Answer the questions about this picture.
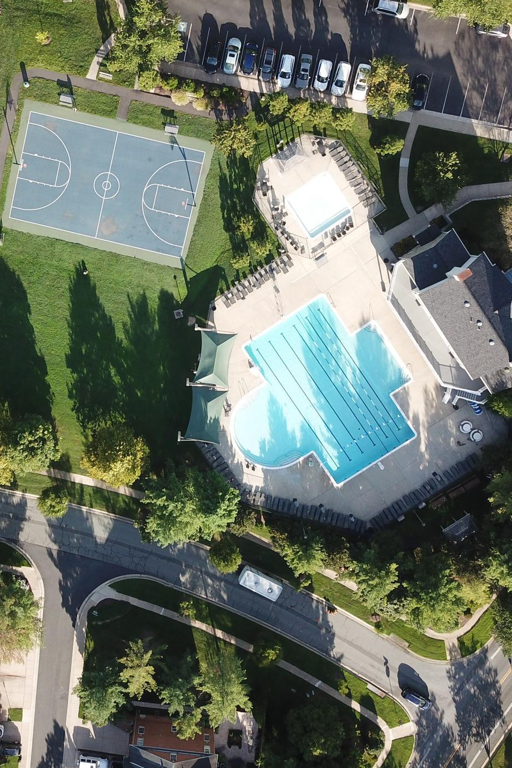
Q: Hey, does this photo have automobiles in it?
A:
Yes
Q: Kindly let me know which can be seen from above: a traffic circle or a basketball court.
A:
basketball court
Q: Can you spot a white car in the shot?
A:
Yes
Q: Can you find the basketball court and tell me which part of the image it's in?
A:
top left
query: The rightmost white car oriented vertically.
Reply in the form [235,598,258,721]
[351,63,371,101]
